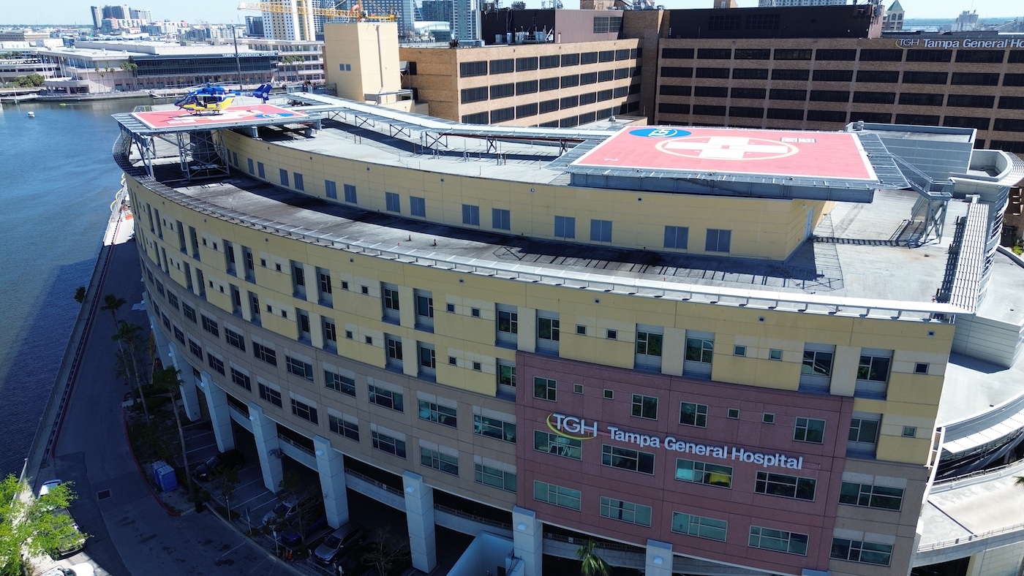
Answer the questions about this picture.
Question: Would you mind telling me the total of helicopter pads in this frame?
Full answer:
The number of helicopter pads here is 2.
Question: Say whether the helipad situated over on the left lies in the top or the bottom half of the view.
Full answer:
The top half of the photo is where the helipad situated over on the left is.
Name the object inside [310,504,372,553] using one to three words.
car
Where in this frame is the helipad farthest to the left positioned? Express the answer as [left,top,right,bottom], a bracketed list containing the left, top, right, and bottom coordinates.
[113,103,328,184]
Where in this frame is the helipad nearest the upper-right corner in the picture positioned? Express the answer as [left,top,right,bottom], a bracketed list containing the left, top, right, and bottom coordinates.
[545,124,912,205]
